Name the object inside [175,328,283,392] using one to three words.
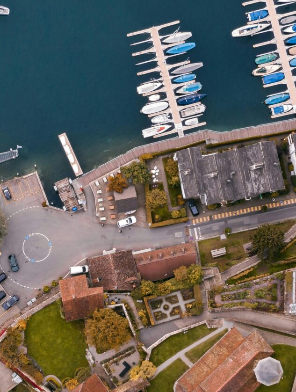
building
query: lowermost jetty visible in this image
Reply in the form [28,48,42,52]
[53,178,83,209]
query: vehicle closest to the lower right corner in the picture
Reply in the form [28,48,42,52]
[185,198,200,218]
